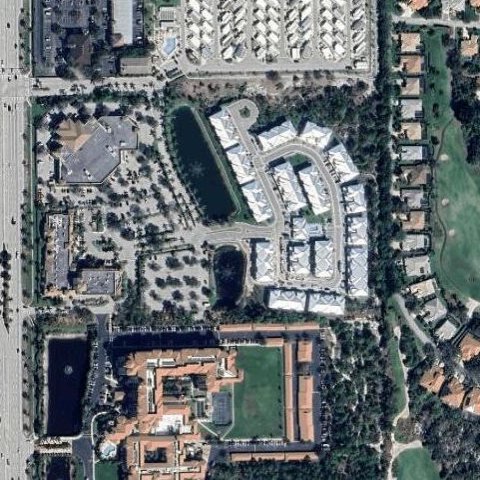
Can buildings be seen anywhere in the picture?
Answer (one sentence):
Yes, you can see a building in this photo.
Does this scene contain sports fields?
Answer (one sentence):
Yes, I can see a sports field in this picture.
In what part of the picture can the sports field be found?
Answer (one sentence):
The sports field is located in the bottom region of the scene.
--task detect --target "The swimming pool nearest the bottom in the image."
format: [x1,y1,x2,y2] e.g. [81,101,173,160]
[100,441,116,457]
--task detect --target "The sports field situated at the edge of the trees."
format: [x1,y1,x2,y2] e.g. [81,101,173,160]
[224,339,289,444]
